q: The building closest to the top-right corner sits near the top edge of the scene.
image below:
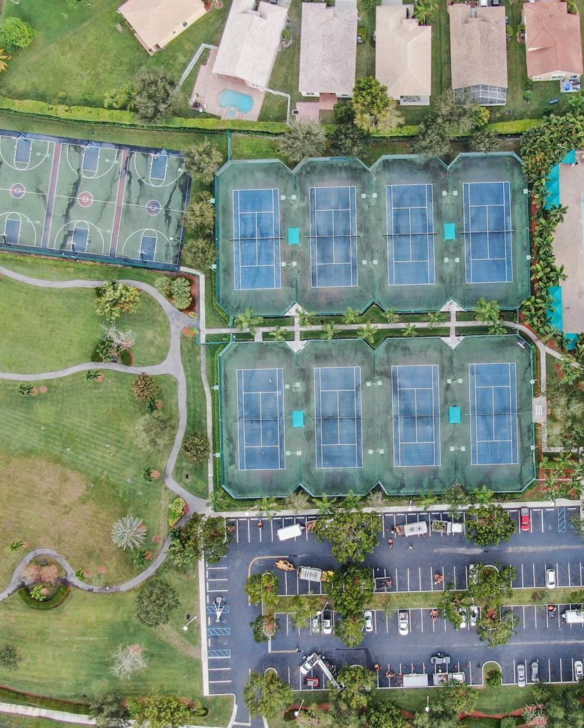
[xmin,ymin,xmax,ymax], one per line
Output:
[522,0,583,82]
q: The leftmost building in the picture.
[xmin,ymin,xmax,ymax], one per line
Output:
[119,0,207,55]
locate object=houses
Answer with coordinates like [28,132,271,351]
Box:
[375,4,431,102]
[447,3,507,90]
[119,0,207,55]
[522,0,583,82]
[298,2,357,100]
[212,0,288,92]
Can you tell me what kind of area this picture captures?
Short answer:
sports ground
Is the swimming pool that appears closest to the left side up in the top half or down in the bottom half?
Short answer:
top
